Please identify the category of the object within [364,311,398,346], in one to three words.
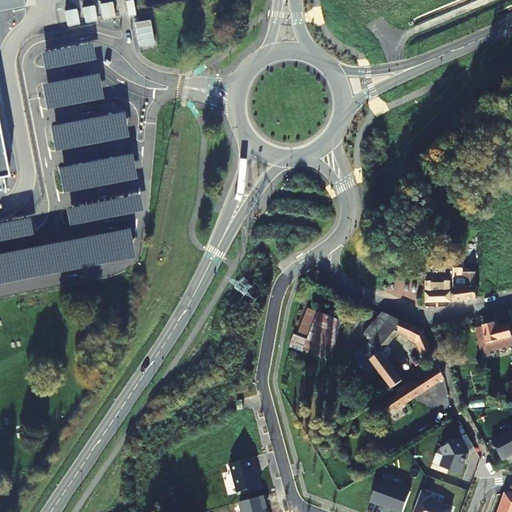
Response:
barn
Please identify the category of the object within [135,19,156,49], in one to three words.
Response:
building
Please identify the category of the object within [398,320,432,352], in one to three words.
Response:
house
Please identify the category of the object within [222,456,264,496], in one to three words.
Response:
house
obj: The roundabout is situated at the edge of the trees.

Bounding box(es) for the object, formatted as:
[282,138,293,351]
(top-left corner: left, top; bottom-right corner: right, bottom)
[228,0,402,194]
